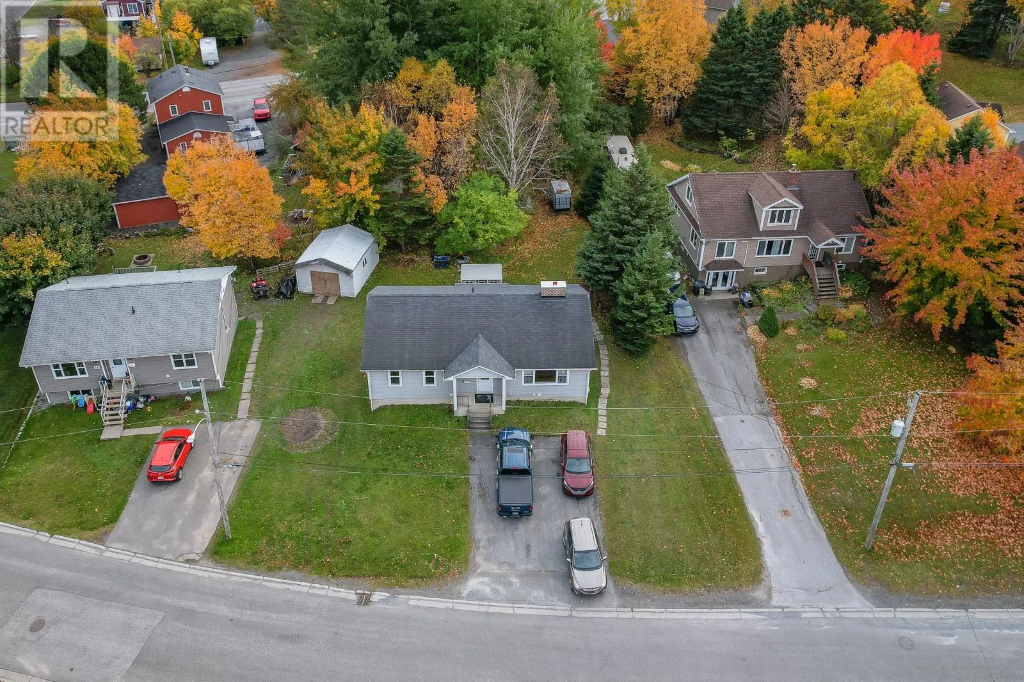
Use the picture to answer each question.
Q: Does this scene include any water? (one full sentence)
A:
No, the scene doesn't show any water.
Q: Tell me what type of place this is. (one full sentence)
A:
This looks like a residential area.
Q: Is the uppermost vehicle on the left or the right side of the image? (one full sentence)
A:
You can find the uppermost vehicle on the left side of the picture.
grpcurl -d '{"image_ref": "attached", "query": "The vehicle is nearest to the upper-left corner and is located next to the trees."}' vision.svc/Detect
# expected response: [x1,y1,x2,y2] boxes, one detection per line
[198,41,222,74]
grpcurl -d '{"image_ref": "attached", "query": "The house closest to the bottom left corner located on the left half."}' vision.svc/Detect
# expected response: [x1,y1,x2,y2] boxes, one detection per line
[16,266,243,425]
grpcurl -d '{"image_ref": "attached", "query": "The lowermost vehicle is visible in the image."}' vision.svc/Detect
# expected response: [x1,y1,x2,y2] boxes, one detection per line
[562,513,608,598]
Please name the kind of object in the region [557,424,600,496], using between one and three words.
car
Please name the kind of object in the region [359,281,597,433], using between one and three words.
house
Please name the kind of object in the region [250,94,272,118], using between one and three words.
truck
